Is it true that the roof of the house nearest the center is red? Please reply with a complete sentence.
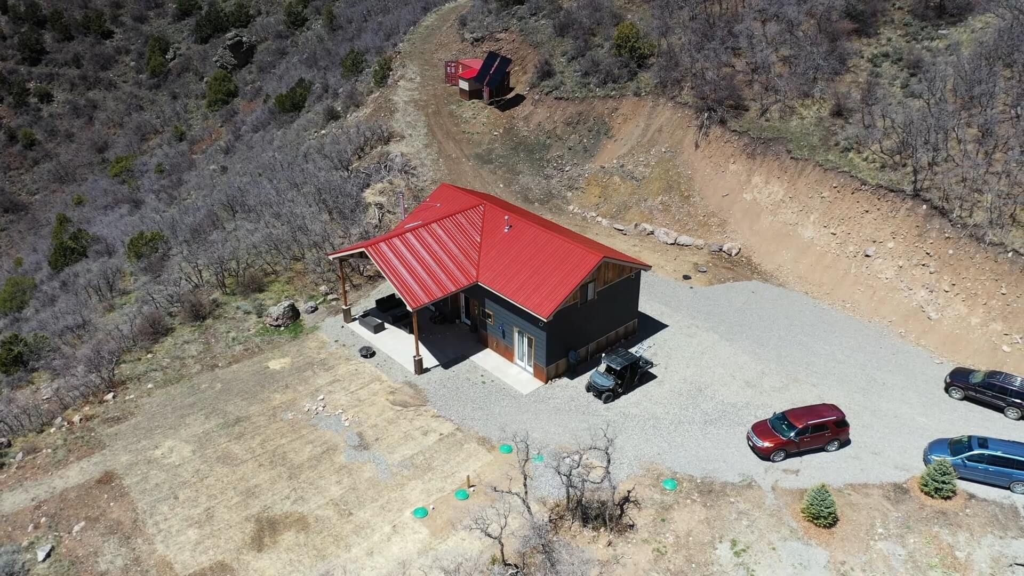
Yes, the roof of the house nearest the center is indeed red.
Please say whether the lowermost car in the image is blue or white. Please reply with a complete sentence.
In this view, the lowermost car is blue.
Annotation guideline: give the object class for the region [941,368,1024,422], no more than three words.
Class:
car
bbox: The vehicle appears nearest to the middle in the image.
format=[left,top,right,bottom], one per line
[588,344,652,400]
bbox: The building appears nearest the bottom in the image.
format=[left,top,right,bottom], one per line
[327,183,652,385]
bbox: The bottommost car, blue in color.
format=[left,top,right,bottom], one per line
[923,433,1024,494]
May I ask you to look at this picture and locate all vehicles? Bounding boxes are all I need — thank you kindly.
[923,433,1024,494]
[588,344,652,400]
[742,401,853,464]
[941,368,1024,422]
